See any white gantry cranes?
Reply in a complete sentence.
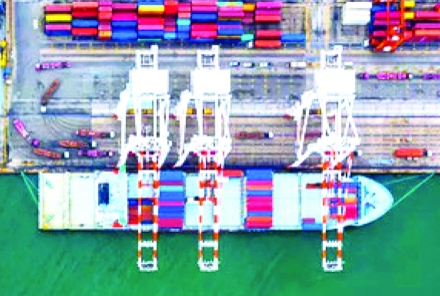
Yes, a white gantry crane appears in the view.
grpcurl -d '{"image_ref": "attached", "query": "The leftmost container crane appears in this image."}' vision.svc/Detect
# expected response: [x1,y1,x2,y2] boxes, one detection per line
[112,36,171,272]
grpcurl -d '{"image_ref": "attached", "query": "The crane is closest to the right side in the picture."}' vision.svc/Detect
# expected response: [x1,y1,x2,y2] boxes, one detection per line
[373,0,407,52]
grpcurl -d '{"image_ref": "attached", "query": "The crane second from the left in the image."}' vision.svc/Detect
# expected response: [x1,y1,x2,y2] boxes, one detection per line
[168,36,231,272]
